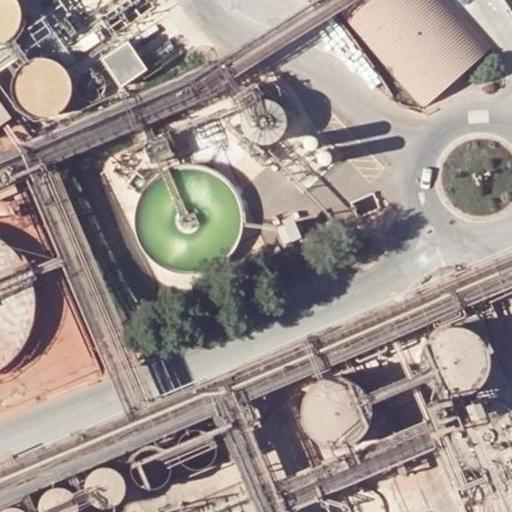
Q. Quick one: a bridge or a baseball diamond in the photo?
bridge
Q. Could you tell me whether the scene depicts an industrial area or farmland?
industrial area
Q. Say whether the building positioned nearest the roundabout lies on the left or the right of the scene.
right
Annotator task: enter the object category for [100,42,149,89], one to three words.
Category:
building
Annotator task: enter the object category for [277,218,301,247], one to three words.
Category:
shed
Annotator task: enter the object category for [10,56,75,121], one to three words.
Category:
storage tank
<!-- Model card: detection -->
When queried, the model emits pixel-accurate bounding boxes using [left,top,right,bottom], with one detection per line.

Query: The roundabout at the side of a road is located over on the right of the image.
[436,133,512,220]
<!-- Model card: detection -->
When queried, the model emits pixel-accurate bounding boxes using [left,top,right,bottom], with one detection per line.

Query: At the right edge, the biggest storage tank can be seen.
[421,328,496,400]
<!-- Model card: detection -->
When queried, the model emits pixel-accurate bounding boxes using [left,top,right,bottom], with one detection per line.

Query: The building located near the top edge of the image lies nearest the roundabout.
[342,0,490,107]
